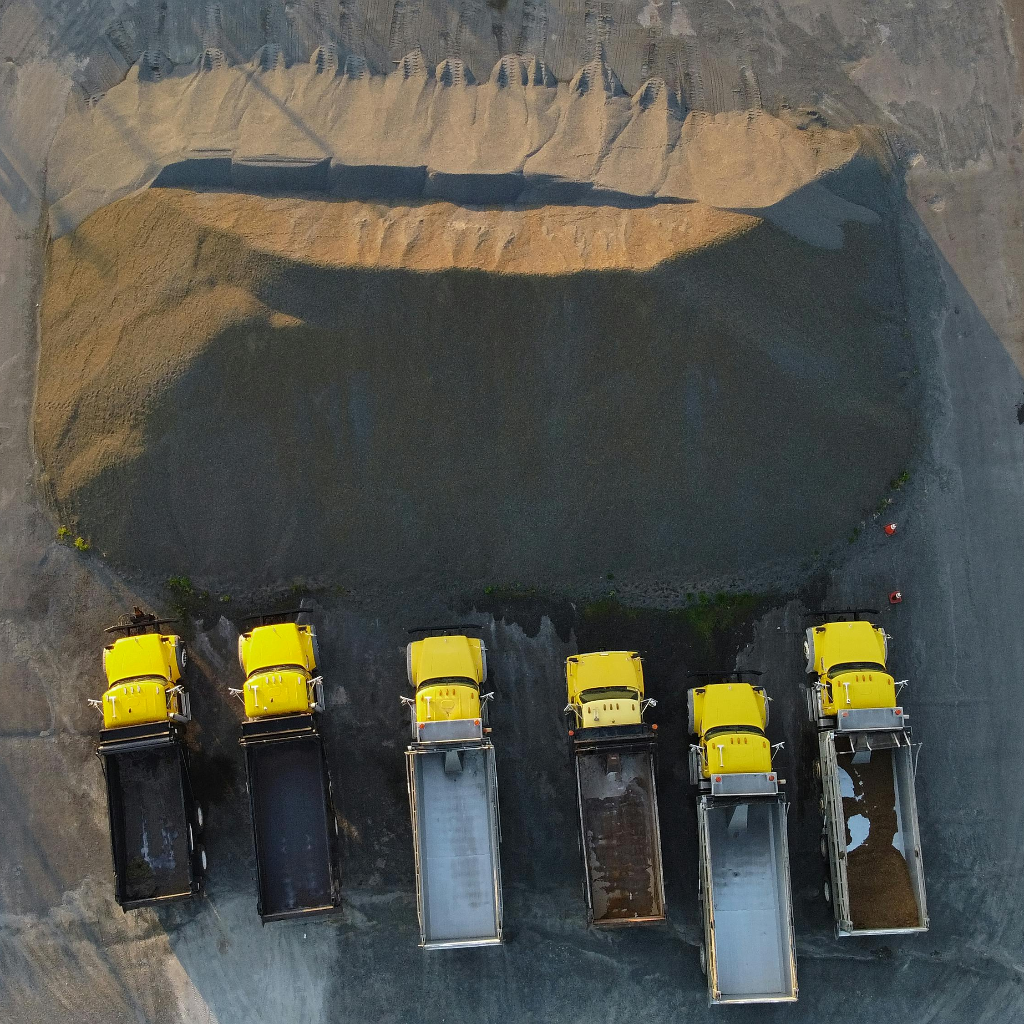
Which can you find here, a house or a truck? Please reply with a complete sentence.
The image shows a truck.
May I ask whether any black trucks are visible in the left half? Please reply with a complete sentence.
Yes, I can see a black truck in the left half.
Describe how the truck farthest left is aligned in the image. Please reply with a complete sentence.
The truck farthest left has been laid out up and down relative to the frame.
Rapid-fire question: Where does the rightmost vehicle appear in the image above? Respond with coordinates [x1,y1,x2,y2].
[800,605,929,937]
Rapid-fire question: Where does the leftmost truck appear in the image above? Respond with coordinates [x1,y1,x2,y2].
[90,600,214,909]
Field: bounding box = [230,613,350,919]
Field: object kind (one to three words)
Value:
truck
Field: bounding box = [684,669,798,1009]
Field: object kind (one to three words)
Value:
truck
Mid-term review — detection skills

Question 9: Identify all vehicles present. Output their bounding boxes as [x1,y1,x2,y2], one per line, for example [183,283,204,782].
[230,613,350,919]
[684,669,798,1009]
[800,605,929,937]
[559,649,670,929]
[90,600,214,909]
[400,621,507,952]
